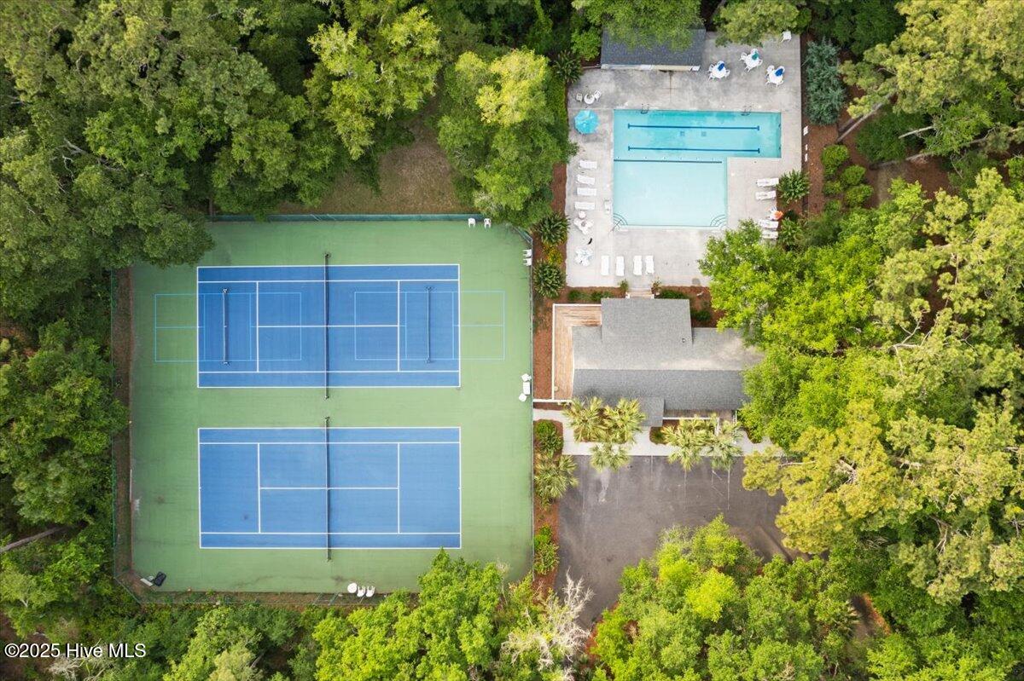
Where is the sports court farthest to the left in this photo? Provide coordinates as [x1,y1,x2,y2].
[154,292,302,362]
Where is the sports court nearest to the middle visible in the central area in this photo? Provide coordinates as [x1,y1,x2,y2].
[355,290,505,360]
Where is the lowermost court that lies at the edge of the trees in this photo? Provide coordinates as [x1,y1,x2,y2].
[198,428,461,549]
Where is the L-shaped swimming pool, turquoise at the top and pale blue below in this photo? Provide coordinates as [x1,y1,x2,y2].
[610,101,784,231]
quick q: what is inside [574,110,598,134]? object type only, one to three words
umbrella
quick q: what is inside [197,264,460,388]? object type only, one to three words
tennis court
